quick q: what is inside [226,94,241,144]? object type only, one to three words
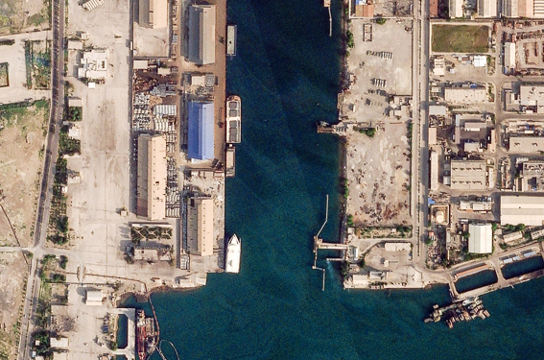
ship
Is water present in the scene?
Yes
